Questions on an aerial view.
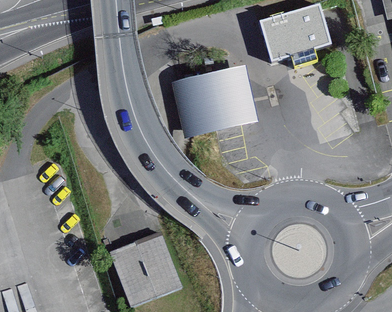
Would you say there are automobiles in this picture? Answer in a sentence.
Yes, there's an automobile down there.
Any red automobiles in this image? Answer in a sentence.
No, the photo shows no red automobile.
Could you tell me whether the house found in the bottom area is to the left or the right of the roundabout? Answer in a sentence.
In the image, the house found in the bottom area sits on the left side of the roundabout.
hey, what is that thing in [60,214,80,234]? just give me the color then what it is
yellow car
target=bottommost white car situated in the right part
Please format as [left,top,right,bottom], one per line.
[228,245,244,267]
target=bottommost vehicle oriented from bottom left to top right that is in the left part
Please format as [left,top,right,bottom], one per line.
[66,246,88,267]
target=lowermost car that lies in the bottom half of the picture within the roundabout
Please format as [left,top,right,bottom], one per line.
[320,278,342,291]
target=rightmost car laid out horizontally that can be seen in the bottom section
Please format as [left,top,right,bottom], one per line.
[346,192,369,204]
